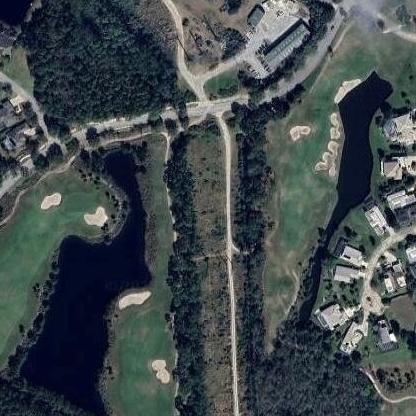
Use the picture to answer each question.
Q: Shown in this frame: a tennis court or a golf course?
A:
golf course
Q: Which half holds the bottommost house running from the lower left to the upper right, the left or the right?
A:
right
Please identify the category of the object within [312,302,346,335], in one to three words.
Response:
house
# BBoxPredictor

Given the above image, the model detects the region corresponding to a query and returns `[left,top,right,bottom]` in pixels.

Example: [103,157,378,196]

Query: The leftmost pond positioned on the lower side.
[20,149,151,414]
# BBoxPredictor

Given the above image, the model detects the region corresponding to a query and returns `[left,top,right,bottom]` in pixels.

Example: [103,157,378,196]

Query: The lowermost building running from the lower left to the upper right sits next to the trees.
[338,321,365,352]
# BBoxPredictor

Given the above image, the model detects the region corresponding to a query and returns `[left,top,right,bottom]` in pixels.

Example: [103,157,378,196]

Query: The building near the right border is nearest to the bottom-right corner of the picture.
[375,321,396,354]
